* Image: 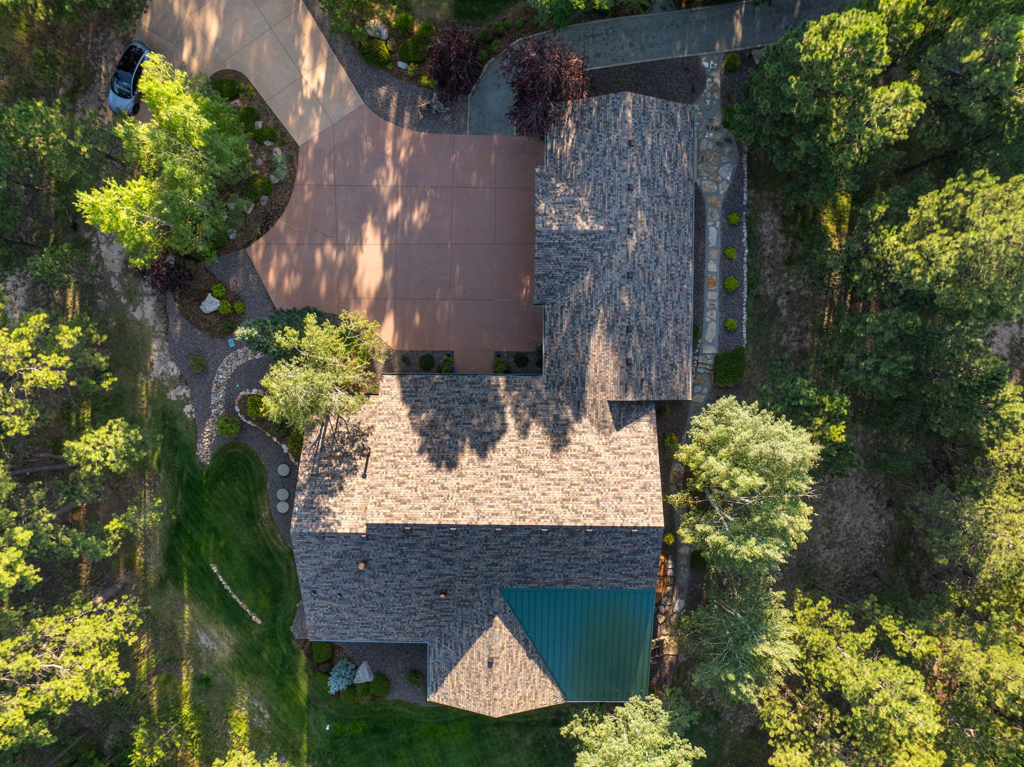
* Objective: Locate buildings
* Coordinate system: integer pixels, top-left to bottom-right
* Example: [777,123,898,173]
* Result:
[290,91,695,718]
